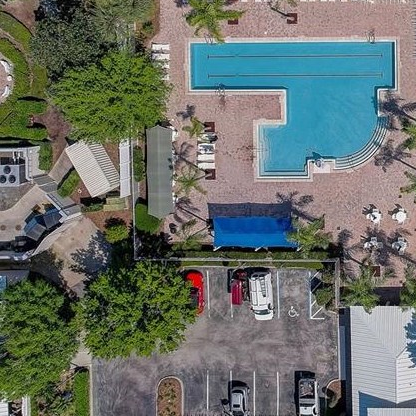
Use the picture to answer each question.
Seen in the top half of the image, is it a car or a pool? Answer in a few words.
pool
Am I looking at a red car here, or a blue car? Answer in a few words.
red car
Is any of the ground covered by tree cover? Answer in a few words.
Yes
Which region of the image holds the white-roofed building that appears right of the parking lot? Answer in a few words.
bottom right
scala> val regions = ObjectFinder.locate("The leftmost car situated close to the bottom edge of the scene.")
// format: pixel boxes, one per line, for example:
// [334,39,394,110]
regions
[229,388,251,416]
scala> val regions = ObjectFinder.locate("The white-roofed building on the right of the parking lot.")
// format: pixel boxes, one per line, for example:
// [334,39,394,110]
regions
[350,303,416,416]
